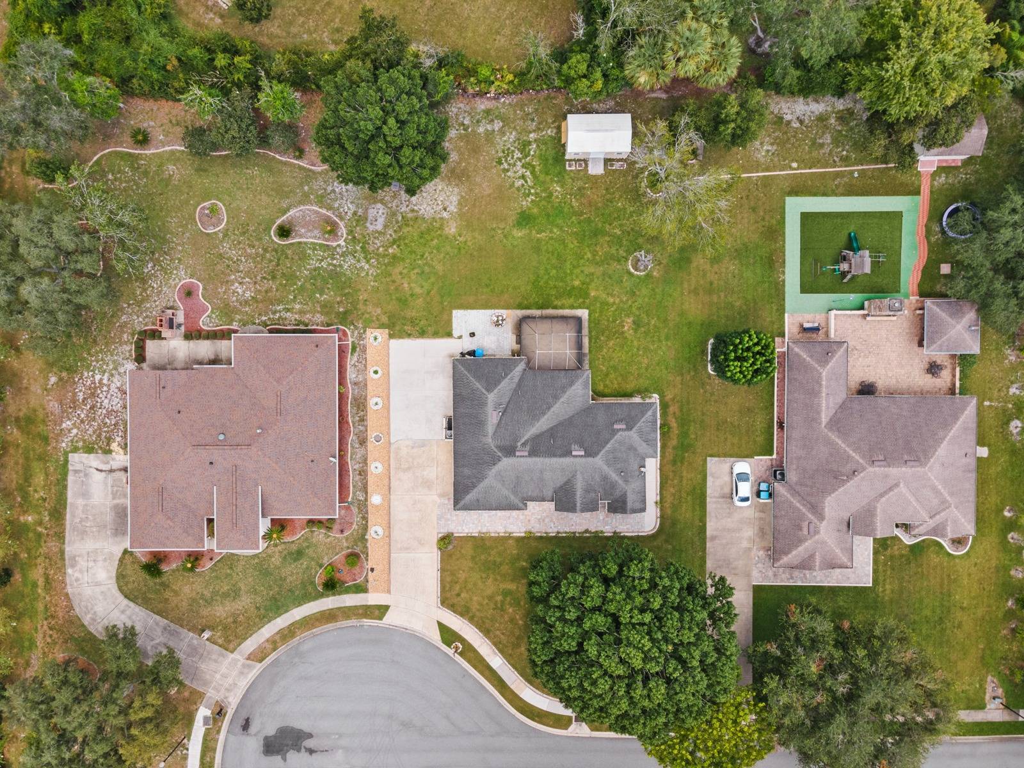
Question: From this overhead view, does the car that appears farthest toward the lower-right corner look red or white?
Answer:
white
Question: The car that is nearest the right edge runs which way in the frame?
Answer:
from top to bottom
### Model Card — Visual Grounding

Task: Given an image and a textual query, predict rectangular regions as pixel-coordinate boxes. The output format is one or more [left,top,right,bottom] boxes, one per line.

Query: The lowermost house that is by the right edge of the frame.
[769,340,978,570]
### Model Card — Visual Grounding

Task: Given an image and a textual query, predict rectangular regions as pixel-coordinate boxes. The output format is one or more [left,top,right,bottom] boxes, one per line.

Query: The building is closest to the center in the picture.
[452,356,659,514]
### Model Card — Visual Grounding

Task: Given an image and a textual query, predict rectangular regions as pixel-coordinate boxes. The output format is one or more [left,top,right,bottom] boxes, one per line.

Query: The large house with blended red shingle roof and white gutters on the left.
[128,334,339,552]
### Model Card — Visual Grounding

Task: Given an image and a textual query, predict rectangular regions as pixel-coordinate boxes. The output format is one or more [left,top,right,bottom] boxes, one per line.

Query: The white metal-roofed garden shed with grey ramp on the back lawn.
[565,114,632,174]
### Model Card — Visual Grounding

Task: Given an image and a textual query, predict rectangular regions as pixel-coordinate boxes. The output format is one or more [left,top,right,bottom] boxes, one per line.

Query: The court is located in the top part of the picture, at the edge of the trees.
[785,196,920,314]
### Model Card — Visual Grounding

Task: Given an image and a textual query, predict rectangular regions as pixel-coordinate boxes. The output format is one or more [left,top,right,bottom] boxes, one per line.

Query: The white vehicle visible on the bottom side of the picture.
[733,462,755,509]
